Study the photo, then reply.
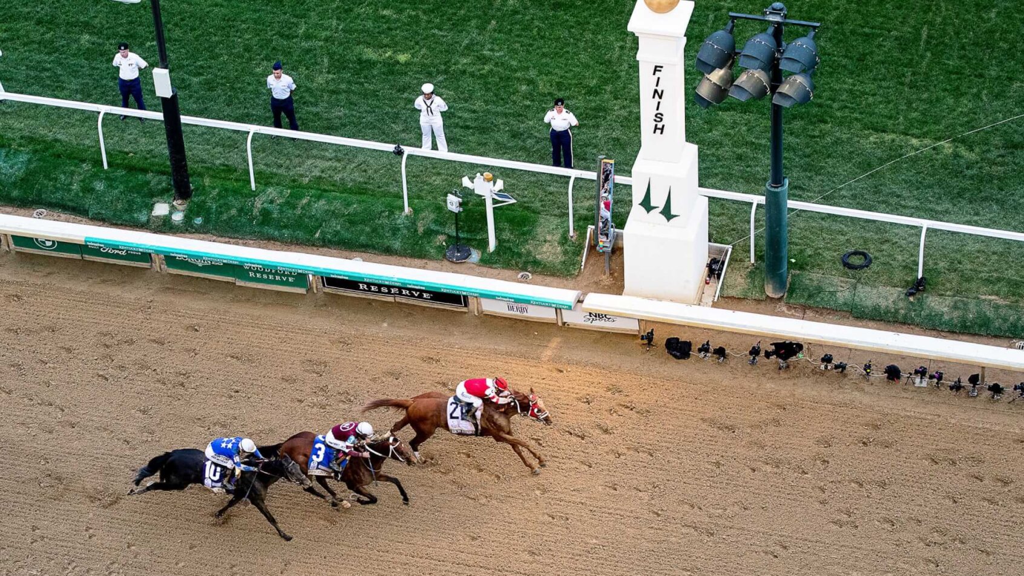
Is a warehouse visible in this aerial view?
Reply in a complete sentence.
No, I find no warehouse anywhere in the image.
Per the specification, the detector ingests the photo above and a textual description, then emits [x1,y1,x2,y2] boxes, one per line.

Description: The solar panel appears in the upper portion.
[491,189,513,207]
